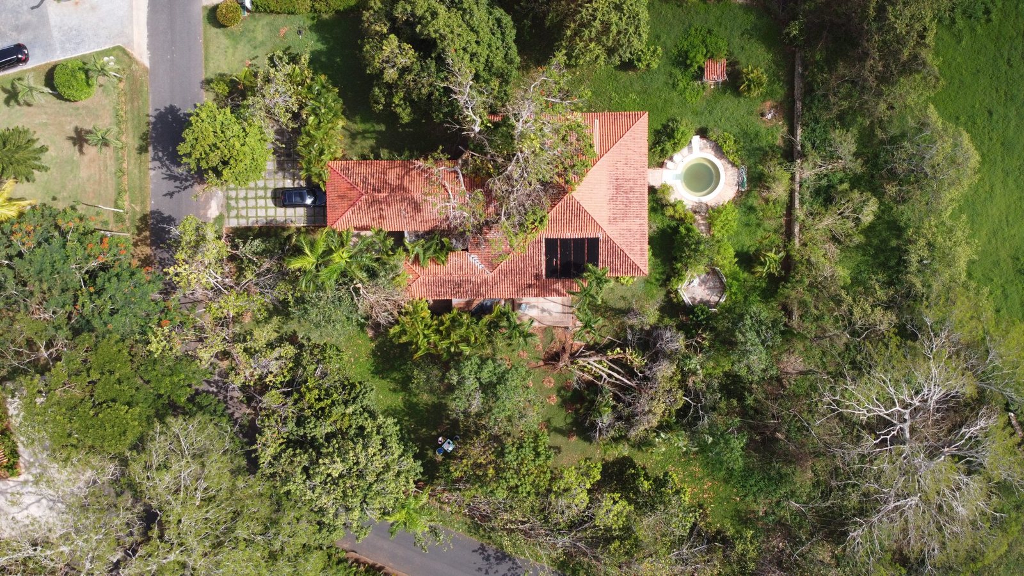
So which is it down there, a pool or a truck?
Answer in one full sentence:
There is a pool in the scene.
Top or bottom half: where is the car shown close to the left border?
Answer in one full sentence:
It is in the top half that the car shown close to the left border appears.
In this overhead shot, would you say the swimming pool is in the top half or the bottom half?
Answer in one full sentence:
You can find the swimming pool in the top half.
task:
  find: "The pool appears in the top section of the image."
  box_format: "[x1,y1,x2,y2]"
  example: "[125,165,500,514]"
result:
[662,133,727,205]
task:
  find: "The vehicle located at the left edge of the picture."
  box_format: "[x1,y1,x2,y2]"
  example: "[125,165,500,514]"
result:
[0,43,37,77]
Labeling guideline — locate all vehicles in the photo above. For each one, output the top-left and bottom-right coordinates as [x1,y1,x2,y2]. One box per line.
[0,43,37,77]
[282,187,328,211]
